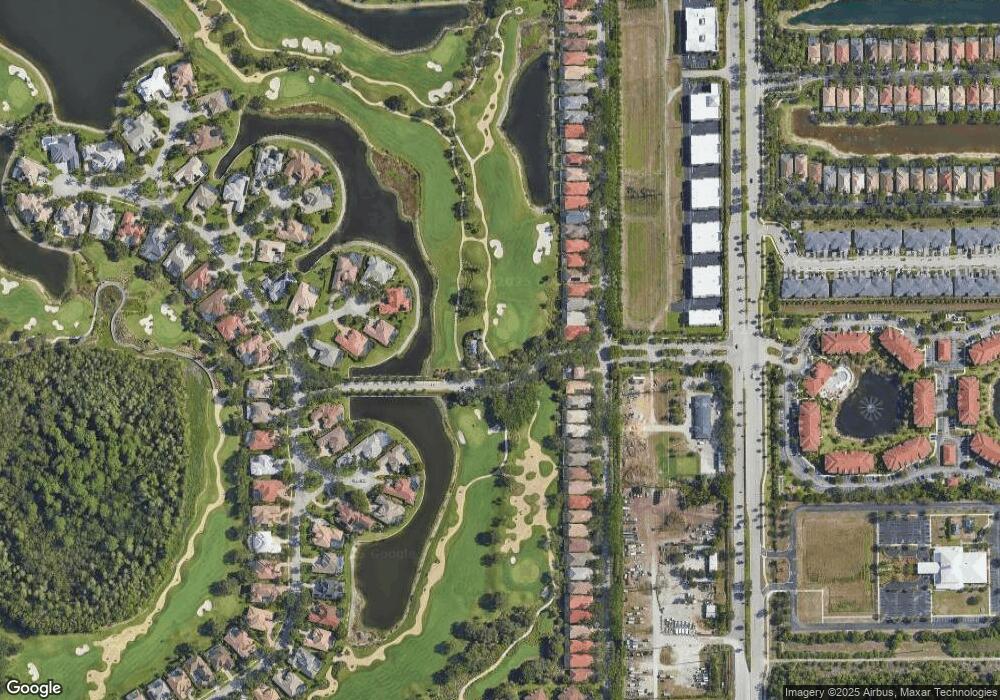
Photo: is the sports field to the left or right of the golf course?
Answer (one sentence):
The sports field is to the right of the golf course.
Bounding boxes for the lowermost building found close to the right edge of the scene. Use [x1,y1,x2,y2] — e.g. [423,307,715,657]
[919,547,988,590]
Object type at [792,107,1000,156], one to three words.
pond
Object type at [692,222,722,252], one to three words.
building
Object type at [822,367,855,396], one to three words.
swimming pool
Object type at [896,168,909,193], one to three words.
house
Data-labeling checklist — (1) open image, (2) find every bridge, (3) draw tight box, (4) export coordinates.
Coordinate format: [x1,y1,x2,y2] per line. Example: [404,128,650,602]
[336,376,478,396]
